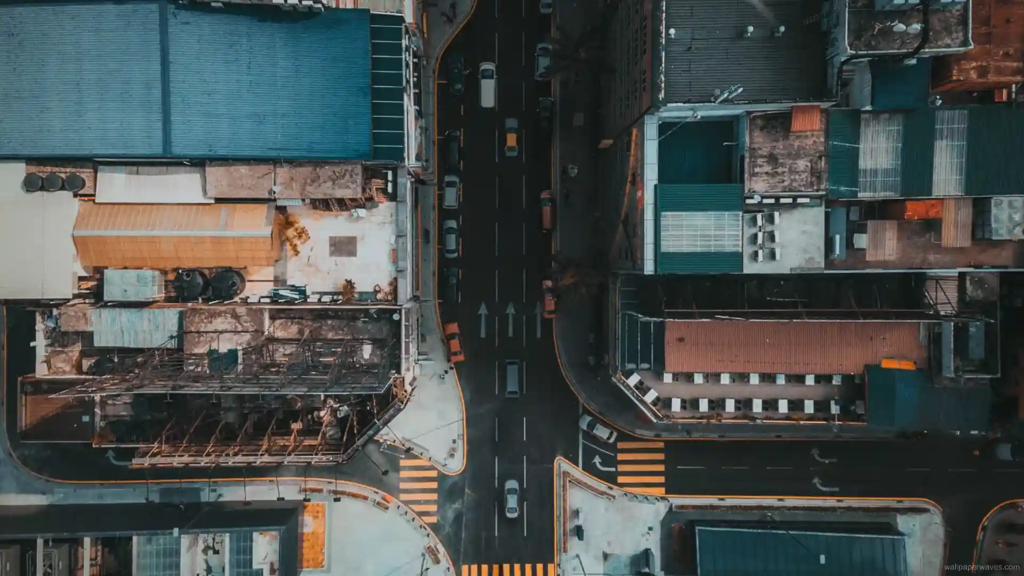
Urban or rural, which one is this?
urban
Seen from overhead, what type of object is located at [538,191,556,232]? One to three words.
vehicle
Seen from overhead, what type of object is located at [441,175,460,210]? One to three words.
car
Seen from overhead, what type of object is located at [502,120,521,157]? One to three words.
car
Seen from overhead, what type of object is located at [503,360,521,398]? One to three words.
vehicle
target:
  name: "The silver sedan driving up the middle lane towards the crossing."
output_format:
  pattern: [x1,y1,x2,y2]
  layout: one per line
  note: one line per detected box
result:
[502,479,521,518]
